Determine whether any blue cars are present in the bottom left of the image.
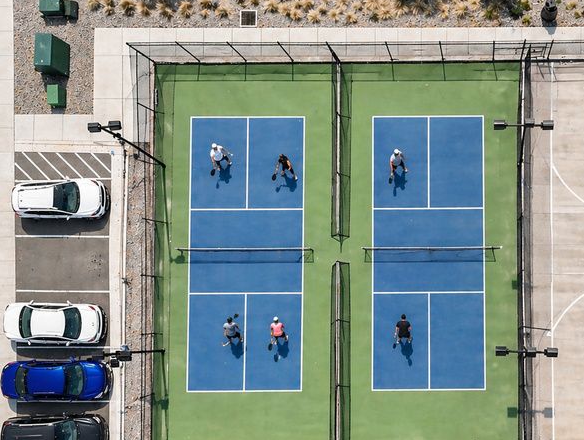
Yes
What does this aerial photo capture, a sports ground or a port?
sports ground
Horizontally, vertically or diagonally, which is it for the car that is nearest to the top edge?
horizontally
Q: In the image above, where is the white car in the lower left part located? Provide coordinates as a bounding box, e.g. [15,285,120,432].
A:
[4,300,109,347]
